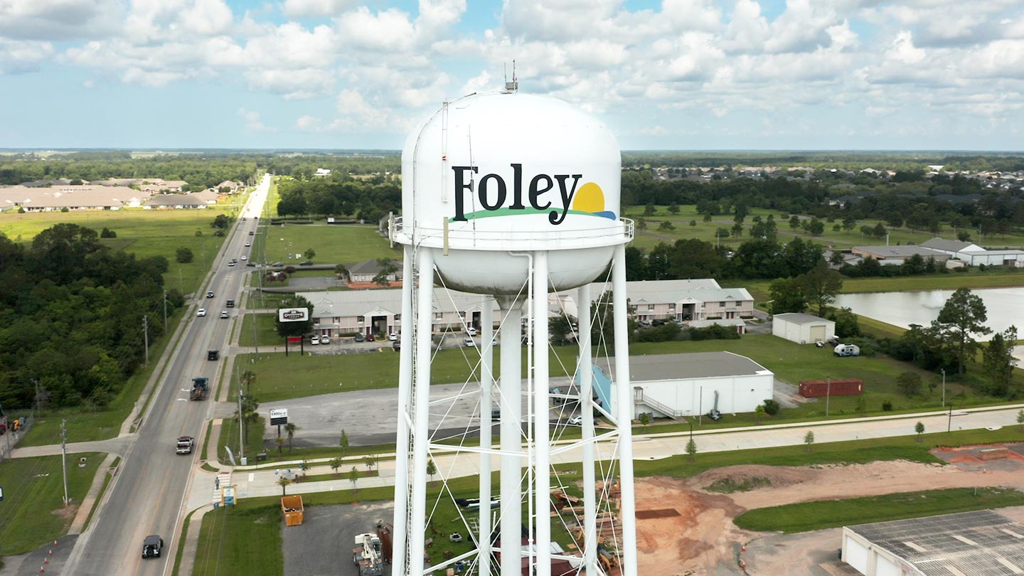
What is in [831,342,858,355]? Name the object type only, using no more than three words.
vehicle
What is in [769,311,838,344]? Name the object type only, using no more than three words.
shed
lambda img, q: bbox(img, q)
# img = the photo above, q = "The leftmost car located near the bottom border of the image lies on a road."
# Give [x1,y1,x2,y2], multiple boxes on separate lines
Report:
[140,536,160,556]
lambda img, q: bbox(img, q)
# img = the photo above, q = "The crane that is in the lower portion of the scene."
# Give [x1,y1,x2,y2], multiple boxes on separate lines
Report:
[352,530,387,576]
